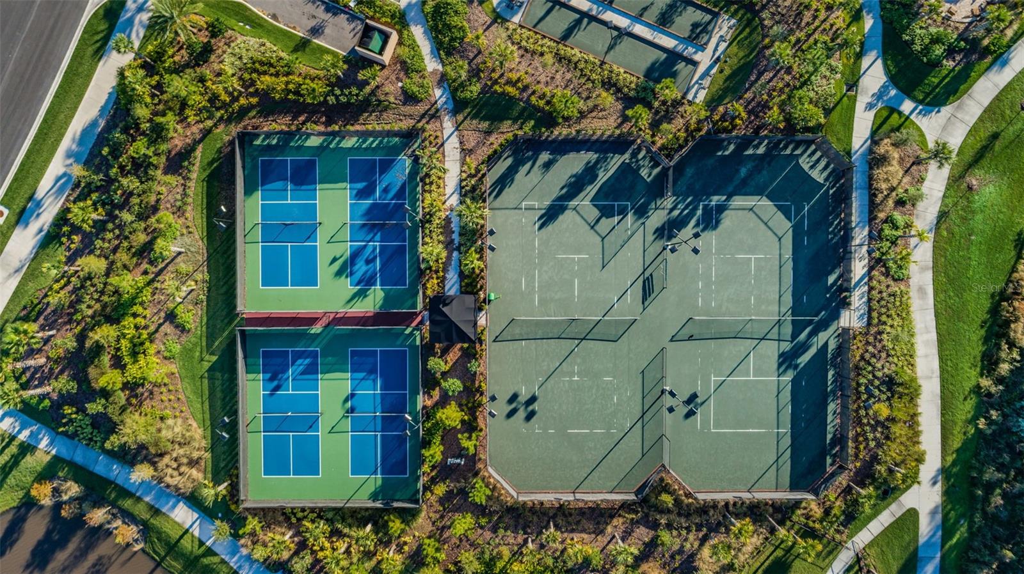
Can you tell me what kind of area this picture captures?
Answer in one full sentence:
It's a sports ground.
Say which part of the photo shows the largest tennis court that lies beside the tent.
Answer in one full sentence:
The largest tennis court that lies beside the tent is in the center part of the image.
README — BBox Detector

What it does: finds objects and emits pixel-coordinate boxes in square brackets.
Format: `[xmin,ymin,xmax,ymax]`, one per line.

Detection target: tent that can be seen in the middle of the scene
[430,295,477,342]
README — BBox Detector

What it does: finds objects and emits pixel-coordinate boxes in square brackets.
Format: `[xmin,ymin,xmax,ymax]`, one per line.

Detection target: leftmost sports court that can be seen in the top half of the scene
[244,139,334,311]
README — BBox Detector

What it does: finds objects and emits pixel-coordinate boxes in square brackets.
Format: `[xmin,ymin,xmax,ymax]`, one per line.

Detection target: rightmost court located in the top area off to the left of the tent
[333,139,420,311]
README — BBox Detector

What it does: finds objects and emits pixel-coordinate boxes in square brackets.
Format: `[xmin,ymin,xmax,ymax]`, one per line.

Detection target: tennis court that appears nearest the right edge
[664,142,840,492]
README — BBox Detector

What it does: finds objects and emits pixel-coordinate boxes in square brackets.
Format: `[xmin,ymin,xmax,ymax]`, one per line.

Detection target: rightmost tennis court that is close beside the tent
[489,141,665,493]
